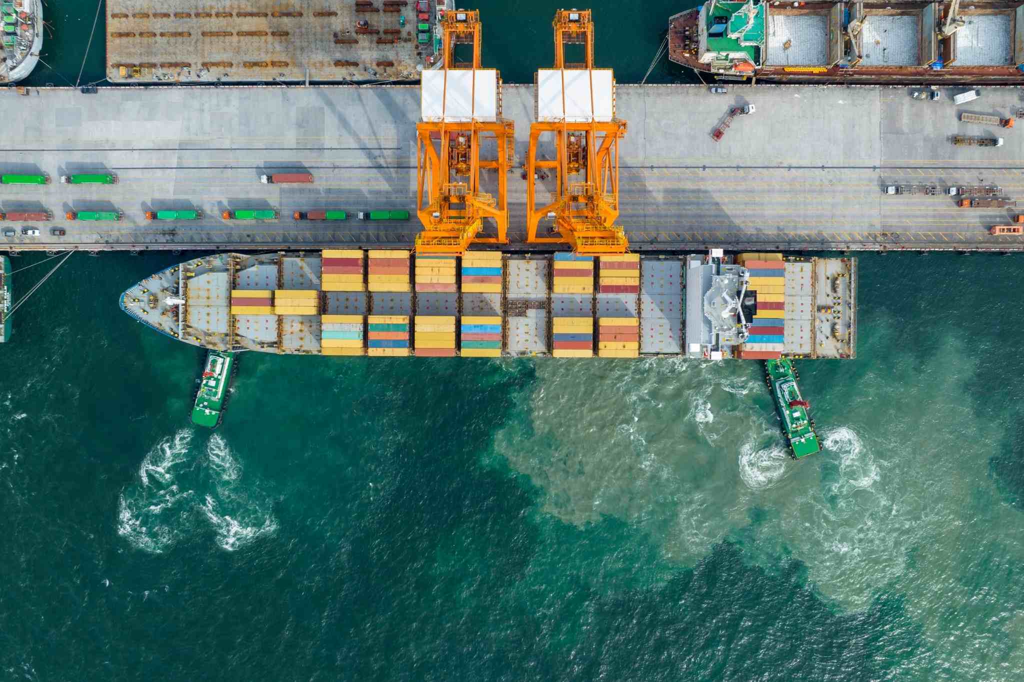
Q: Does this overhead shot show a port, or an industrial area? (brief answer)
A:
port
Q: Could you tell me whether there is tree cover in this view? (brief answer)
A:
No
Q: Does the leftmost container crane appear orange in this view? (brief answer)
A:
Yes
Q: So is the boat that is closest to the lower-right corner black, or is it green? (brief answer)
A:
green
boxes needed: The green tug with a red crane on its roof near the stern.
[767,359,823,459]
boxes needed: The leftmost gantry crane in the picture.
[404,6,521,255]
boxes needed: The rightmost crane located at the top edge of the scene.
[516,6,636,255]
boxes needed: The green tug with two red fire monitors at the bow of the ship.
[190,347,235,430]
